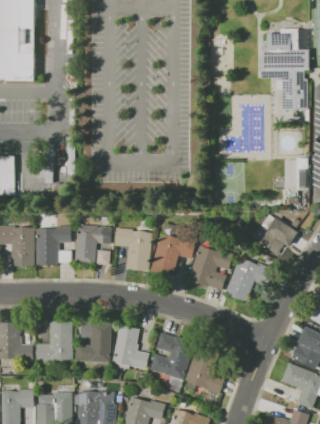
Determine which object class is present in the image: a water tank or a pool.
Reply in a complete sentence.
Of the two, only a pool appears.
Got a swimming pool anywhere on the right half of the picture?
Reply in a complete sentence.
Yes, looking on the right half of the picture, one can make out a swimming pool.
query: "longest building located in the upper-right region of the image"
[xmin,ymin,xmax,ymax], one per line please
[262,28,310,122]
